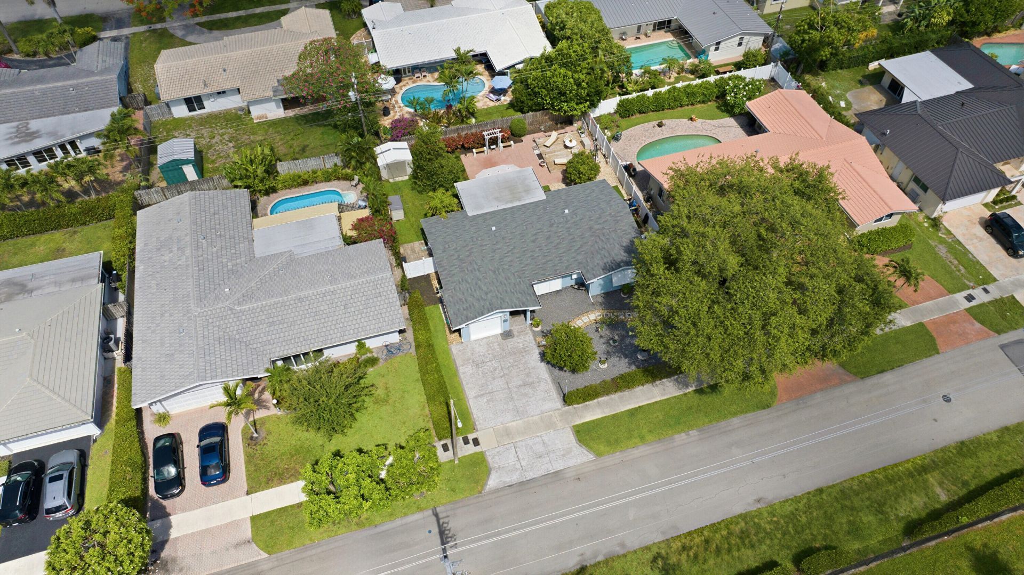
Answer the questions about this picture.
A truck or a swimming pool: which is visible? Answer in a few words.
swimming pool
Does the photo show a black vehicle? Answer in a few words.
Yes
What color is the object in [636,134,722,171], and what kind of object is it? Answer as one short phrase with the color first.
green swimming pool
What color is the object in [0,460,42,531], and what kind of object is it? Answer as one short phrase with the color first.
black car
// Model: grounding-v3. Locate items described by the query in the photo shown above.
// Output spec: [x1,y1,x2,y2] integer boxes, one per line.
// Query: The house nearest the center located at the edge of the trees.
[417,163,656,343]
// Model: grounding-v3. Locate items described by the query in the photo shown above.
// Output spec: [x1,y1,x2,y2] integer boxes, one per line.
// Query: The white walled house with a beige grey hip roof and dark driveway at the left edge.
[0,249,107,456]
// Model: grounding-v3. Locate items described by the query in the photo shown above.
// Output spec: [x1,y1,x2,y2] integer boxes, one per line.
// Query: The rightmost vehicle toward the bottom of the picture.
[195,423,232,488]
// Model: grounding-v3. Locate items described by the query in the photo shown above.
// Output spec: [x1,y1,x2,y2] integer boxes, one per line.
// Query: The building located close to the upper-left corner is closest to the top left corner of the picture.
[0,35,130,168]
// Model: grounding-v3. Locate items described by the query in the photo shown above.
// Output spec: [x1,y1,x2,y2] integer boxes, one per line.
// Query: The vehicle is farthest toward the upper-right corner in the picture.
[987,213,1024,260]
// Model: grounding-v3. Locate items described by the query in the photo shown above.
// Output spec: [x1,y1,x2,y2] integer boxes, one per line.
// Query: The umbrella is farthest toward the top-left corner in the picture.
[372,75,399,96]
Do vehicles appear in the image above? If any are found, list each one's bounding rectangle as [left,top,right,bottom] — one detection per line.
[0,460,42,531]
[195,423,232,488]
[987,213,1024,260]
[150,431,187,501]
[38,449,83,520]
